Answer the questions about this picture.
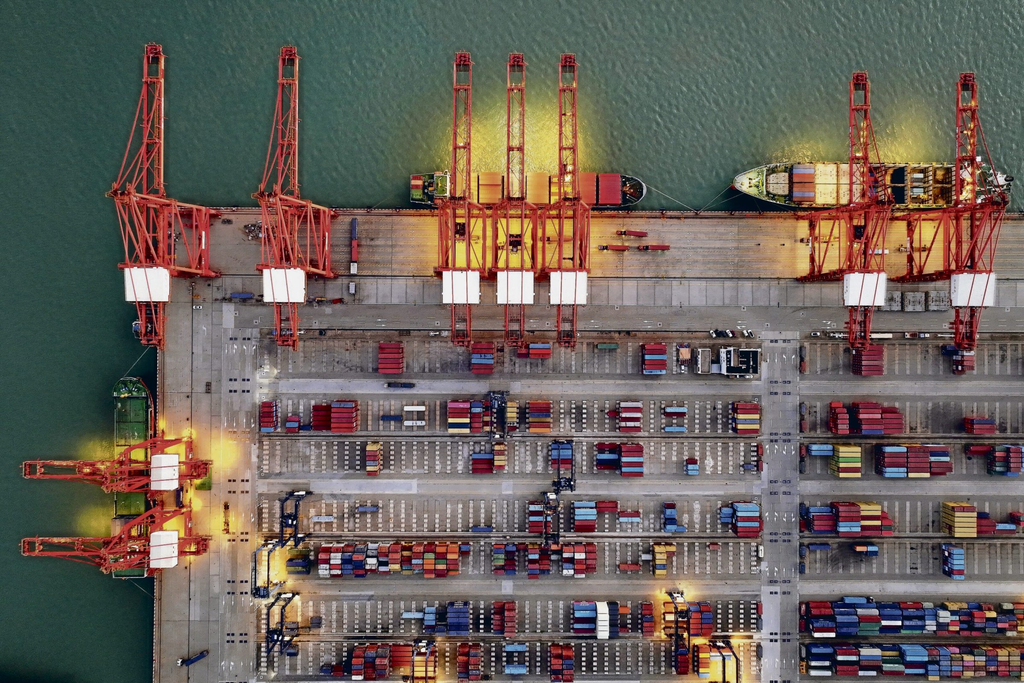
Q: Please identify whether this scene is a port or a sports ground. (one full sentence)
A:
It's a port.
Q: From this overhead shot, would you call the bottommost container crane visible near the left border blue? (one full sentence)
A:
No, from above the bottommost container crane visible near the left border looks red.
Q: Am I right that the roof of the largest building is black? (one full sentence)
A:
Yes, the roof of the largest building is black.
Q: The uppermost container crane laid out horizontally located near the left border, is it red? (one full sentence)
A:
Yes, the uppermost container crane laid out horizontally located near the left border is indeed red.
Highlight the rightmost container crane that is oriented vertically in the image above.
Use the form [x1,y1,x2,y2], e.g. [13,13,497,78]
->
[887,72,1011,353]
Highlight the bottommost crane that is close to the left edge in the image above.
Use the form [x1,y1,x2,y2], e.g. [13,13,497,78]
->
[17,500,214,574]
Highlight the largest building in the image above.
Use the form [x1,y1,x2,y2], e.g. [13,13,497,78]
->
[719,346,758,374]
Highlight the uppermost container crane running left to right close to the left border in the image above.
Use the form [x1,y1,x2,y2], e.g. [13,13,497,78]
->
[18,430,215,493]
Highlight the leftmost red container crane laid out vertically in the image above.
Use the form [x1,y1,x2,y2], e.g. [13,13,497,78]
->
[108,44,221,349]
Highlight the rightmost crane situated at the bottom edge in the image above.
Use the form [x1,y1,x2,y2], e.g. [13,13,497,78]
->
[706,638,741,683]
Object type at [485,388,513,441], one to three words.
container crane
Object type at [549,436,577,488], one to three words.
container crane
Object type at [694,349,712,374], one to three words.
building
